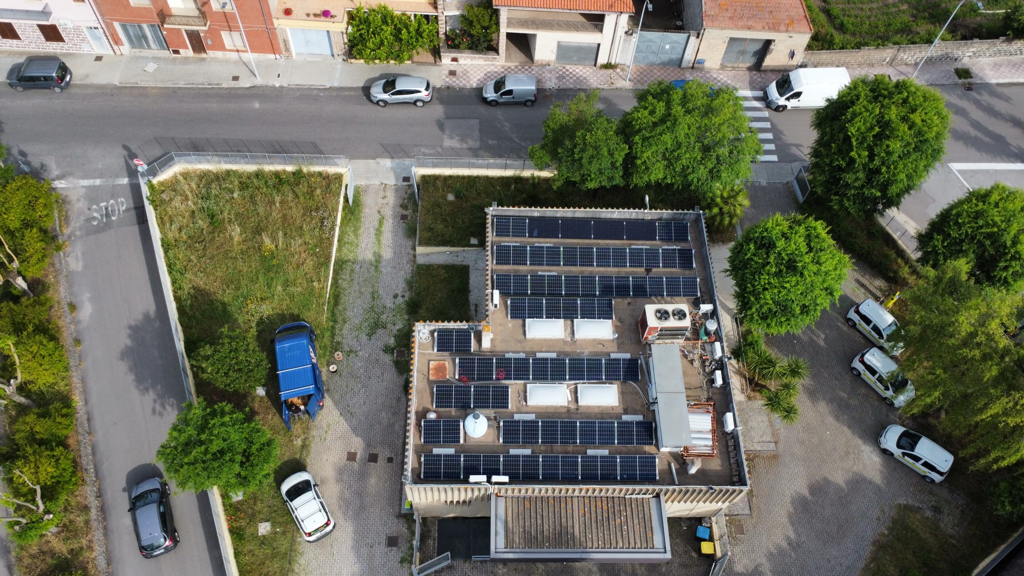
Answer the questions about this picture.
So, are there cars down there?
Yes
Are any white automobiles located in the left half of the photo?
Yes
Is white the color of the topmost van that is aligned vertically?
No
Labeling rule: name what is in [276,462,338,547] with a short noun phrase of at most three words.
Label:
car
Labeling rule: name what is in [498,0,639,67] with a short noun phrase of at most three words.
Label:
house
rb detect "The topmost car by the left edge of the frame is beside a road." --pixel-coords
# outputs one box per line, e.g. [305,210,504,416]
[7,59,71,92]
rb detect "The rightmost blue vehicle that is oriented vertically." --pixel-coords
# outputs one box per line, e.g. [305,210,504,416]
[274,325,327,426]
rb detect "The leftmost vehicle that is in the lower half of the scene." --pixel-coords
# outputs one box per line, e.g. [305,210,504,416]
[121,477,179,572]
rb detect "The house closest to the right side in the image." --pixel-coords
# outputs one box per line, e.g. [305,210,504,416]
[692,0,821,71]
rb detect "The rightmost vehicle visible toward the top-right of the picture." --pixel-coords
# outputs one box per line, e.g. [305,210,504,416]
[764,67,854,112]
